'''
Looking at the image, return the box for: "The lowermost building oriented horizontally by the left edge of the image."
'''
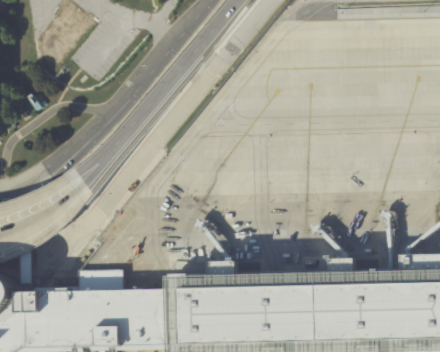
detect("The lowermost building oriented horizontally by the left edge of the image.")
[0,288,163,352]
